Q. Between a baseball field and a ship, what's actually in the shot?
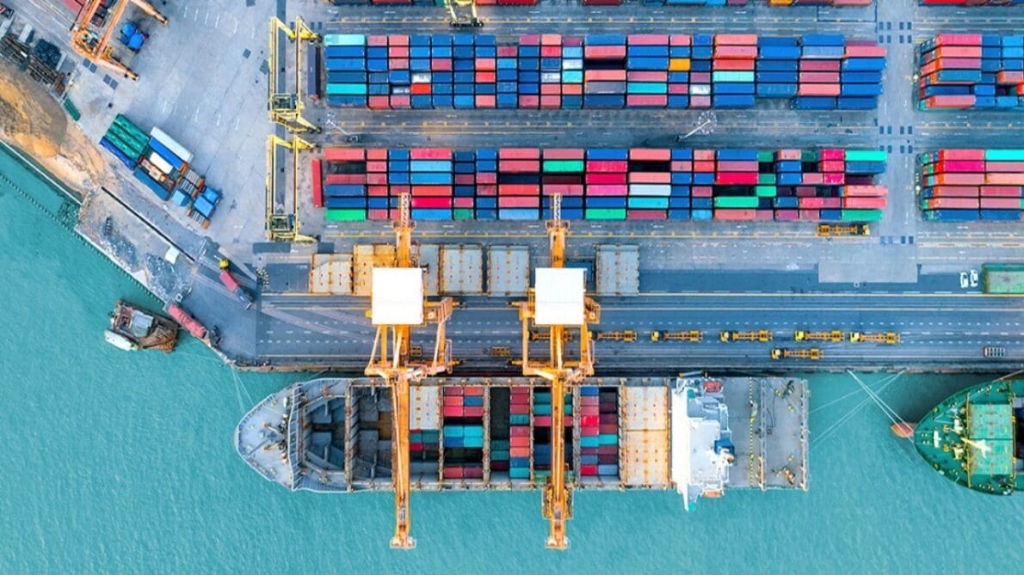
ship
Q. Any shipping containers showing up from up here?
Yes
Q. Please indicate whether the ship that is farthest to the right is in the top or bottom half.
bottom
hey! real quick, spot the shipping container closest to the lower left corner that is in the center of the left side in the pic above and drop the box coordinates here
[167,301,210,338]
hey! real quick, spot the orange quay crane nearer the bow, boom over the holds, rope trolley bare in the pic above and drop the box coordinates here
[359,194,466,548]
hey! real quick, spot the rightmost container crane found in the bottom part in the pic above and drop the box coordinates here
[503,194,603,548]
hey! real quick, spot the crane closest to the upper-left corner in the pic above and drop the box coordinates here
[67,0,174,78]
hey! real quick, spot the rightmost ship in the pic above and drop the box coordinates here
[891,375,1024,496]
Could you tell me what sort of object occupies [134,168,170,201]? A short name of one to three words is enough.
shipping container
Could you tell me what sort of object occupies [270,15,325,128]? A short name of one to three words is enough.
container crane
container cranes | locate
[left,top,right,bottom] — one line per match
[67,0,174,78]
[359,194,466,548]
[503,194,603,548]
[270,15,325,128]
[268,134,323,239]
